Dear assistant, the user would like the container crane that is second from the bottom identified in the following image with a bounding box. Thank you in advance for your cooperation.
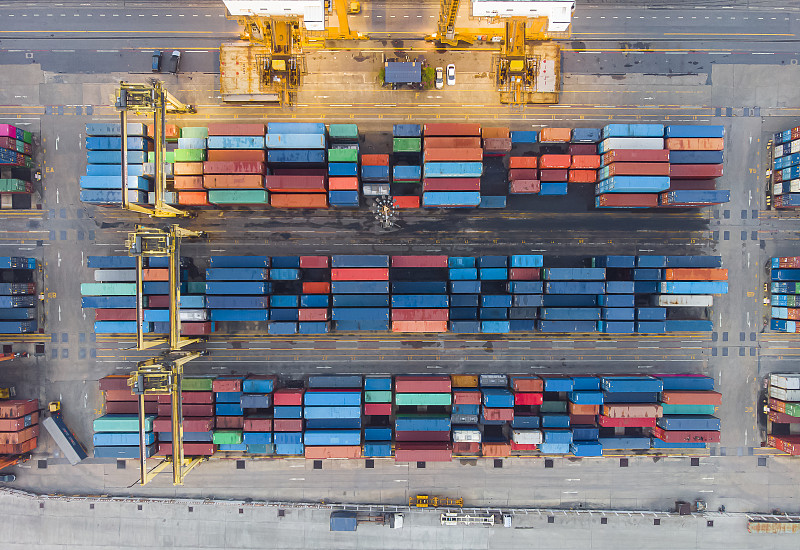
[124,220,212,353]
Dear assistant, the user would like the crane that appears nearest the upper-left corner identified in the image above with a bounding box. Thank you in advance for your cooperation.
[111,74,200,213]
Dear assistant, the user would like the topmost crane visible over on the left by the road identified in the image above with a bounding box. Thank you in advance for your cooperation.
[220,0,366,110]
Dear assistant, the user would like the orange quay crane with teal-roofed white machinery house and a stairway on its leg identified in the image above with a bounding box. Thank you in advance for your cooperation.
[424,0,576,110]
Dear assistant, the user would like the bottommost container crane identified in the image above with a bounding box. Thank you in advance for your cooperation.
[126,350,213,492]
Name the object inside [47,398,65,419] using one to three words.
vehicle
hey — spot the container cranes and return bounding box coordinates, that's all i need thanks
[126,350,213,492]
[124,220,212,353]
[424,0,576,110]
[111,74,200,213]
[220,0,366,110]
